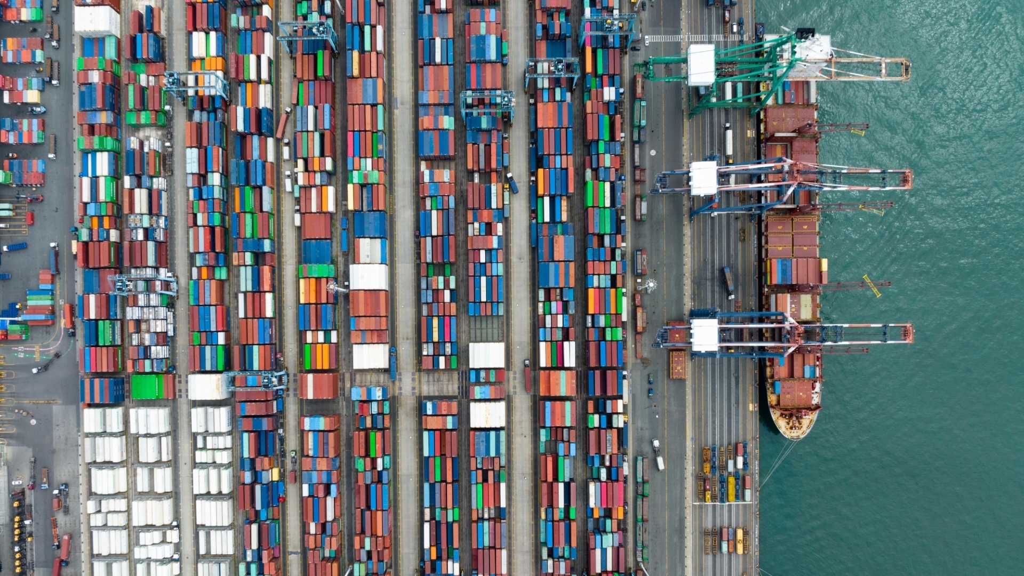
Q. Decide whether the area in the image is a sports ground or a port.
port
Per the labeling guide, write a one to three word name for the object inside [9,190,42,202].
vehicle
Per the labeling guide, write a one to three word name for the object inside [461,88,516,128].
container crane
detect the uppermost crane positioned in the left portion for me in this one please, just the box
[277,18,338,61]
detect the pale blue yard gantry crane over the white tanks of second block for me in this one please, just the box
[109,270,178,302]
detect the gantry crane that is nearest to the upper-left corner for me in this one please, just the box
[162,67,230,107]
